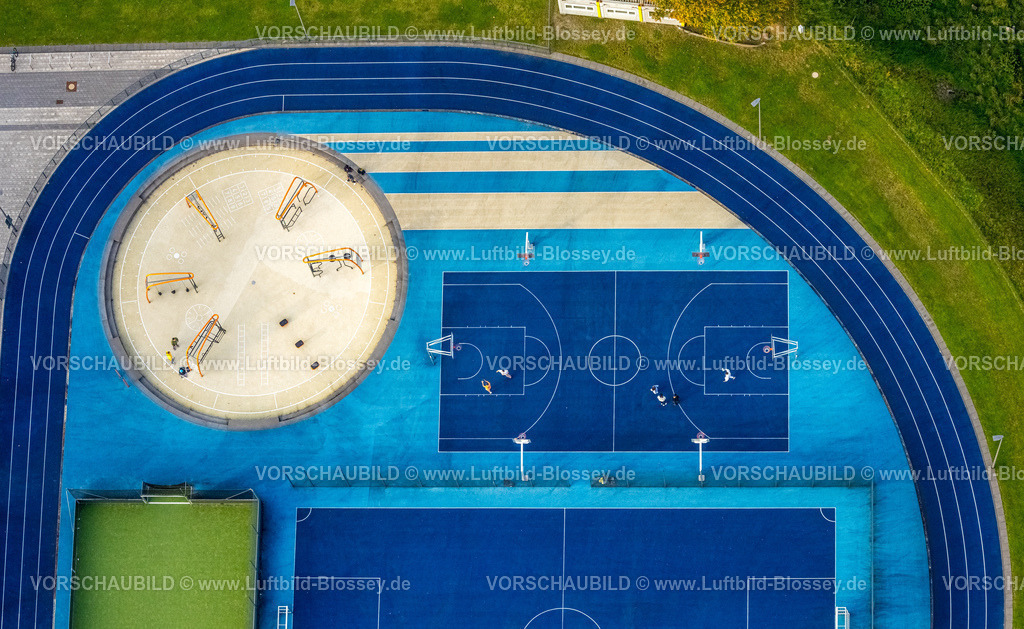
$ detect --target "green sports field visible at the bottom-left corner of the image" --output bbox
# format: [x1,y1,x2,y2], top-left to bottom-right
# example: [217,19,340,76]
[73,503,258,629]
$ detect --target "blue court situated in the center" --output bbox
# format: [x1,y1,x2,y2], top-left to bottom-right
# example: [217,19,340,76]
[439,270,790,452]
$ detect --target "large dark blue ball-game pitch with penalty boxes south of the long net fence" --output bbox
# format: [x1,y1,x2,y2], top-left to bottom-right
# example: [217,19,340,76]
[292,507,837,629]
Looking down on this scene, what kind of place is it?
sports ground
